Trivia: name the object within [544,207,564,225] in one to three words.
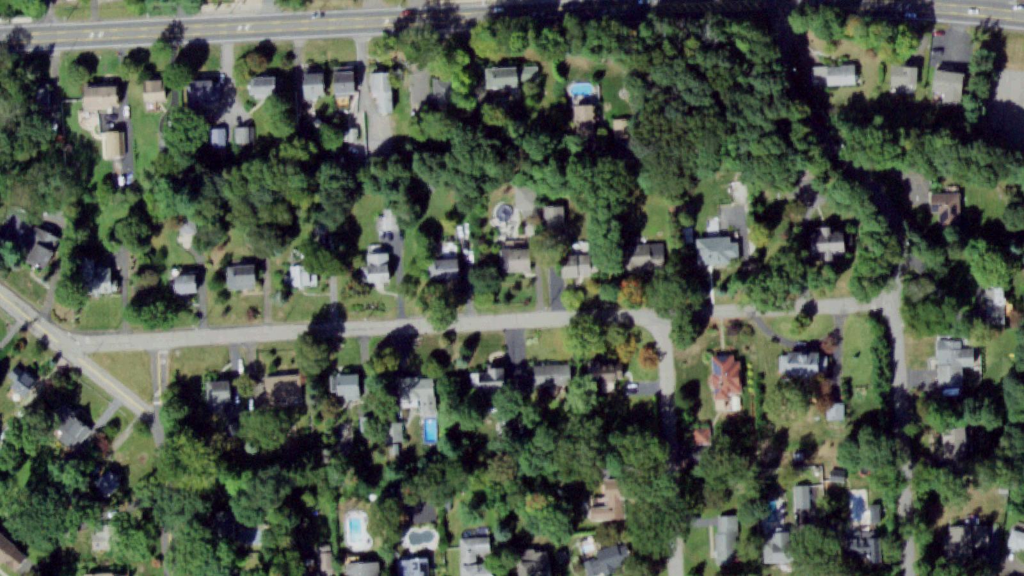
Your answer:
building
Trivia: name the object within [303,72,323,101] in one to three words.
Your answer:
house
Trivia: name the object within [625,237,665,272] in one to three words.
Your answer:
house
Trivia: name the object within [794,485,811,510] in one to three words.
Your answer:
shed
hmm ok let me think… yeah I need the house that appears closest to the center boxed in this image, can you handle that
[502,241,531,275]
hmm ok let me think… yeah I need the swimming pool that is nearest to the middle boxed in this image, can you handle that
[495,203,514,222]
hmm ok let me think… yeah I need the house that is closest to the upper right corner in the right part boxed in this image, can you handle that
[932,71,964,101]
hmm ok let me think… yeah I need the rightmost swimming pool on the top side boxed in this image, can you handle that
[570,83,594,96]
